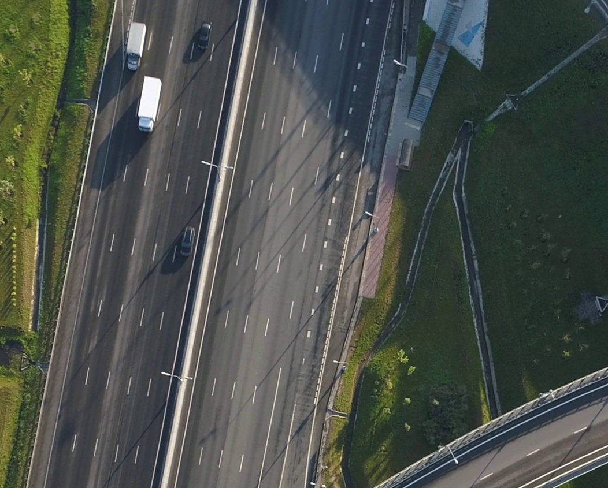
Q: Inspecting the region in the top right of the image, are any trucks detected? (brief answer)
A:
No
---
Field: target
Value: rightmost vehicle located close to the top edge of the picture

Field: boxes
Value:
[196,21,210,48]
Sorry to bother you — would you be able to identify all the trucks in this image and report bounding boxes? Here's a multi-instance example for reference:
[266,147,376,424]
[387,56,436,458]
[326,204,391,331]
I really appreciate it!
[134,72,160,131]
[122,17,144,70]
